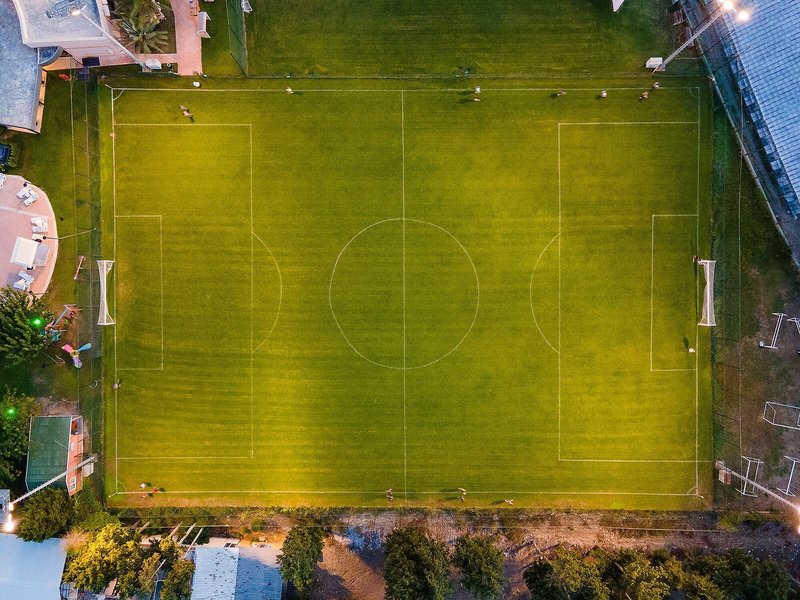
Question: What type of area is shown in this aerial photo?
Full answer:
This image shows a sports ground.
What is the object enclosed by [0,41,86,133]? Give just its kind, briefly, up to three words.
house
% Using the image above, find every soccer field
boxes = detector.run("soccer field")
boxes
[98,78,713,510]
